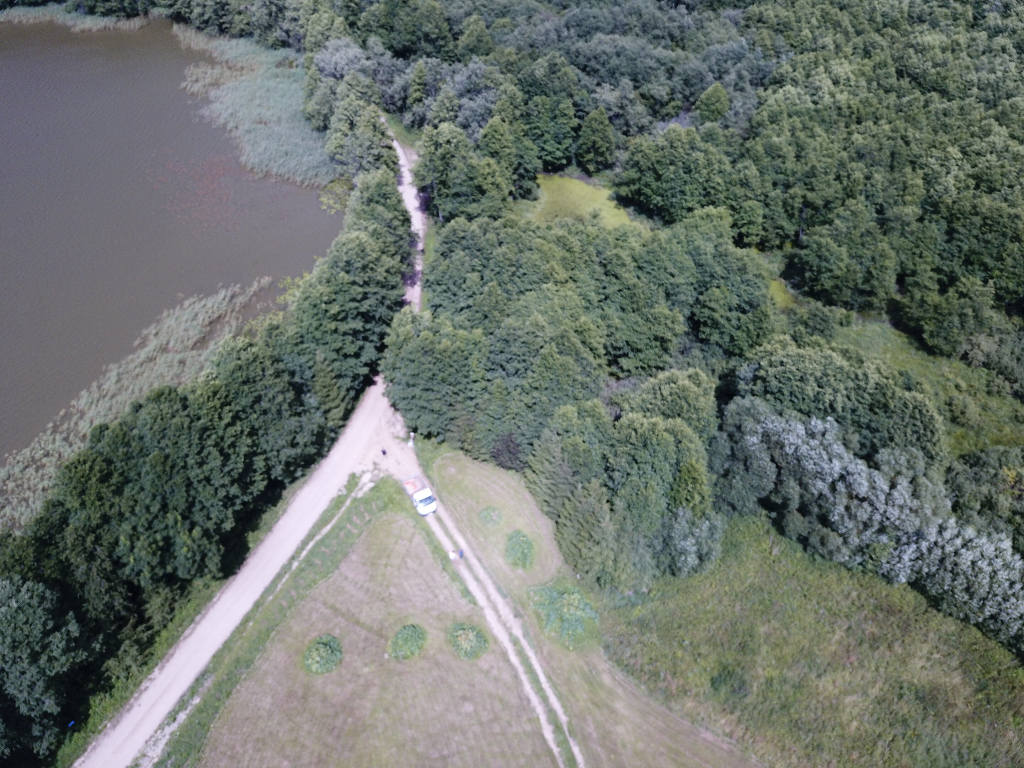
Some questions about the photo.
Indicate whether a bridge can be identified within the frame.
No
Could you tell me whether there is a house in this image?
No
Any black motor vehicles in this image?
No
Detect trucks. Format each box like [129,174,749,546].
[403,472,434,517]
